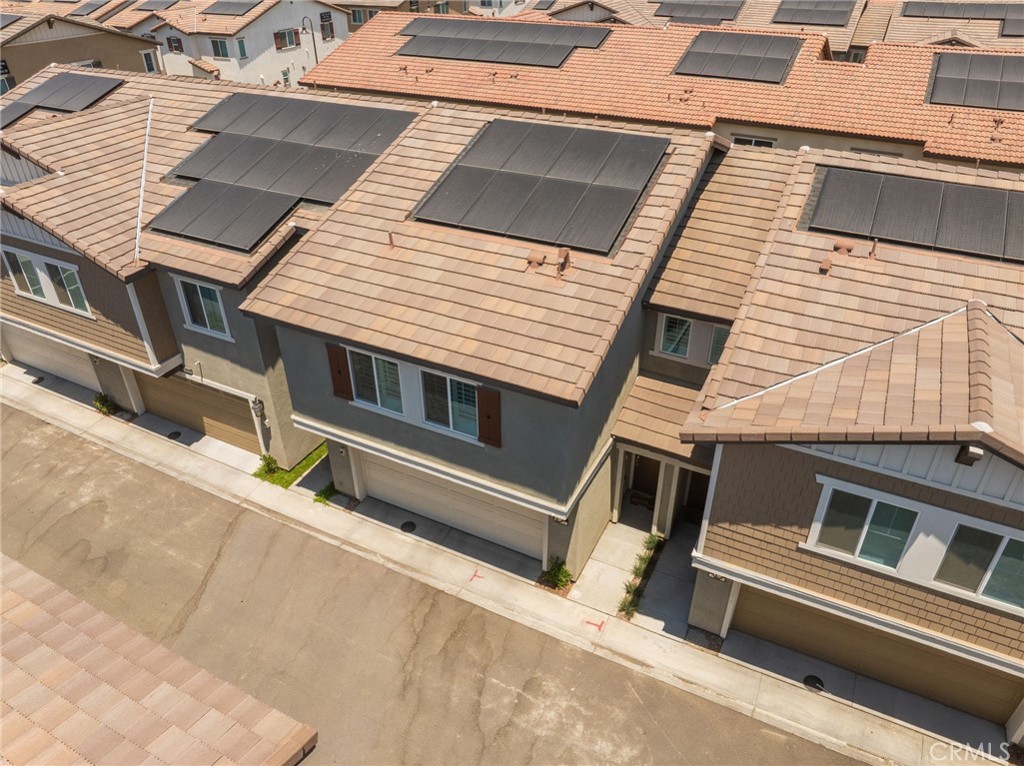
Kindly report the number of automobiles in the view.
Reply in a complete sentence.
There are no automobiles in the image.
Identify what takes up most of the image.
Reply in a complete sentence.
For the most part, this view shows buildings.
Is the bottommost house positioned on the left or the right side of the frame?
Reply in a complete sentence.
You can find the bottommost house on the left side of the picture.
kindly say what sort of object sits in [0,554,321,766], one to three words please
house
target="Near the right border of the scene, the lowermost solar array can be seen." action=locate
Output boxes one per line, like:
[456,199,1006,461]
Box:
[807,169,1024,266]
